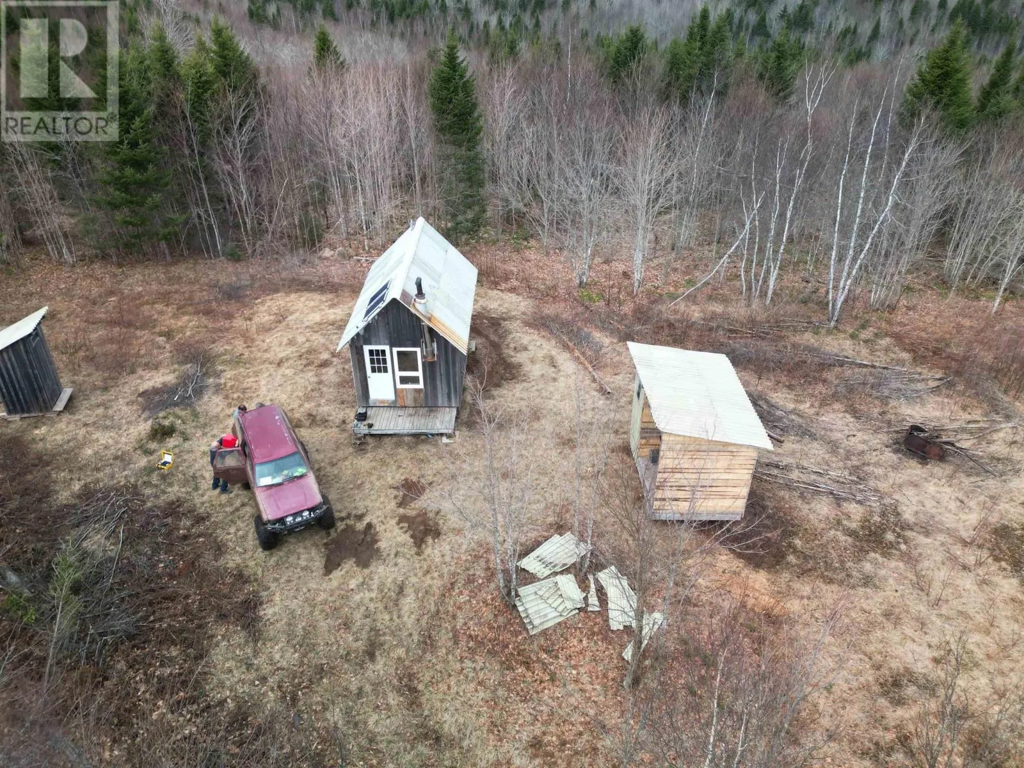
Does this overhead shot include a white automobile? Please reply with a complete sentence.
No, this view has no white automobile in it.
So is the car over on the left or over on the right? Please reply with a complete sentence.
The car is on the left side of the image.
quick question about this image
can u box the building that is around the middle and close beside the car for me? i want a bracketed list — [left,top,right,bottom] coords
[337,212,476,438]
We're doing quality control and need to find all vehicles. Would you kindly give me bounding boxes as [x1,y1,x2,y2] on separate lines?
[210,404,343,557]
